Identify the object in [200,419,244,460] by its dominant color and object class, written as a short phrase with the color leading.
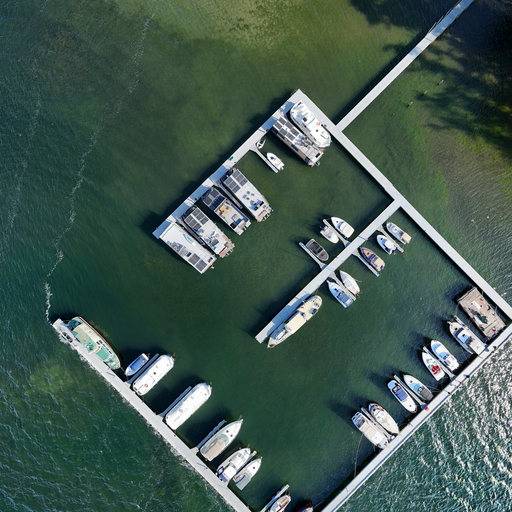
white boat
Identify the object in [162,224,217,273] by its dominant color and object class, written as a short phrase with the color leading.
white boat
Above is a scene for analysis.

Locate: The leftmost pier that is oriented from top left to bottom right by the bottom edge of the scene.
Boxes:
[52,318,252,512]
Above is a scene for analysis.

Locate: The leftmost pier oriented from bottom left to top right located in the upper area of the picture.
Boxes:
[152,88,305,240]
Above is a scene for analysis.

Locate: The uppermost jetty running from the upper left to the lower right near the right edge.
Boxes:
[386,187,512,320]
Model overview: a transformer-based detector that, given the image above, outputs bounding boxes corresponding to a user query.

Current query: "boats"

[218,448,249,482]
[330,216,354,239]
[292,102,331,148]
[403,374,434,402]
[271,117,323,167]
[125,352,149,375]
[387,223,412,244]
[234,458,262,492]
[320,226,338,243]
[166,382,212,430]
[350,408,390,447]
[300,504,312,512]
[266,494,291,512]
[340,271,364,296]
[432,340,459,371]
[306,238,328,260]
[268,296,322,348]
[133,354,176,396]
[422,352,444,380]
[222,168,273,222]
[377,236,395,256]
[162,224,217,273]
[447,322,482,356]
[326,280,352,308]
[386,380,417,412]
[200,419,244,460]
[268,153,284,170]
[367,402,400,435]
[202,188,250,234]
[182,206,234,257]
